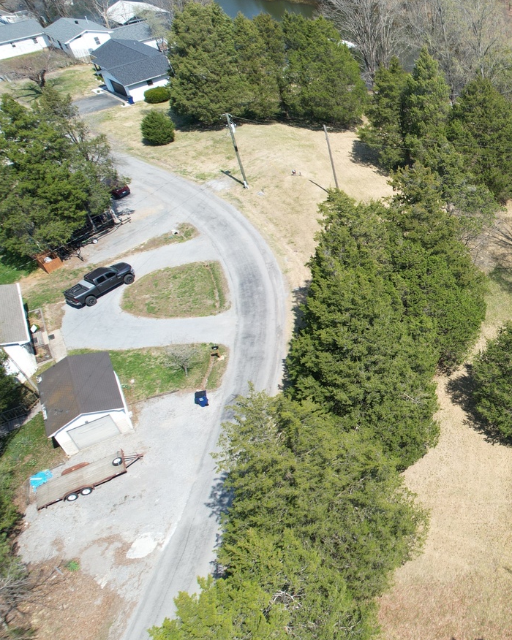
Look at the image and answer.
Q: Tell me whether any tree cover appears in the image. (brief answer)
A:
Yes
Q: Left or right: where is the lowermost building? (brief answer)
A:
left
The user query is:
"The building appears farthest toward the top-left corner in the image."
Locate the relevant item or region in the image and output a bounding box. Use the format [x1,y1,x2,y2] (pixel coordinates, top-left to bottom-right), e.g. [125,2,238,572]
[0,15,46,58]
